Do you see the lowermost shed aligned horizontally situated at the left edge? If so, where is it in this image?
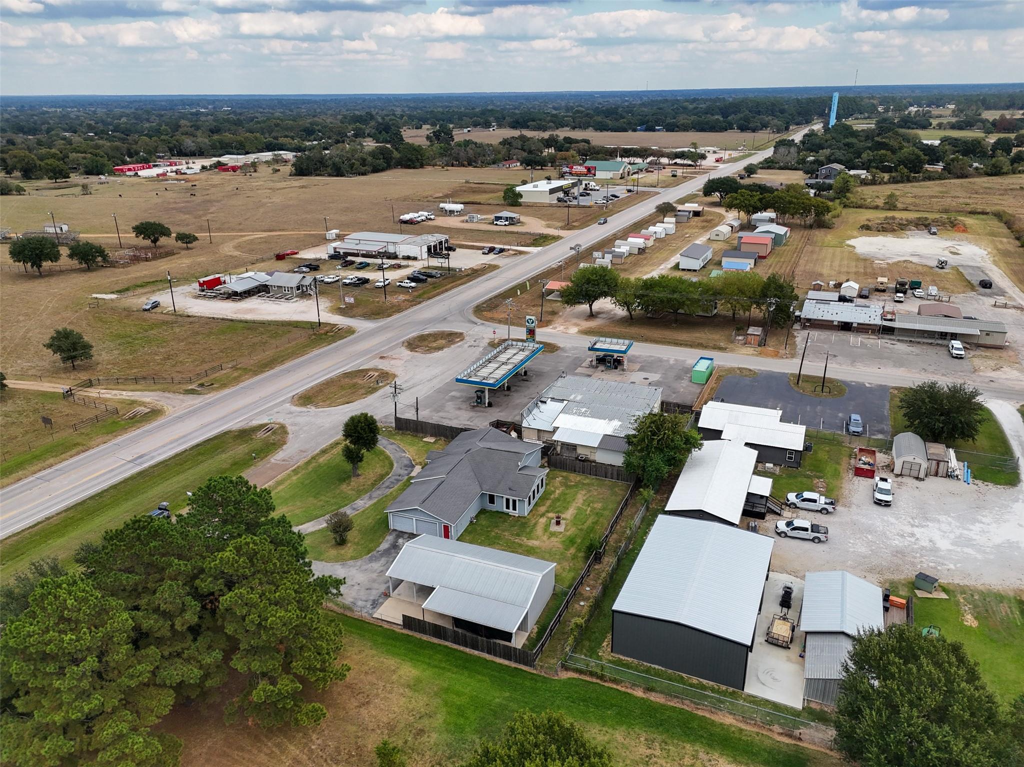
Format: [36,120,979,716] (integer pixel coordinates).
[45,221,76,234]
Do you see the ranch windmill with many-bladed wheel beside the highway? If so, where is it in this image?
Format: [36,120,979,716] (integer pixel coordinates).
[567,233,586,279]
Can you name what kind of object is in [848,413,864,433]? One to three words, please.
car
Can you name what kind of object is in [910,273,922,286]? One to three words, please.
vehicle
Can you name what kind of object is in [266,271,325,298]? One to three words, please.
building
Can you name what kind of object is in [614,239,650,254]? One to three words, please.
shed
